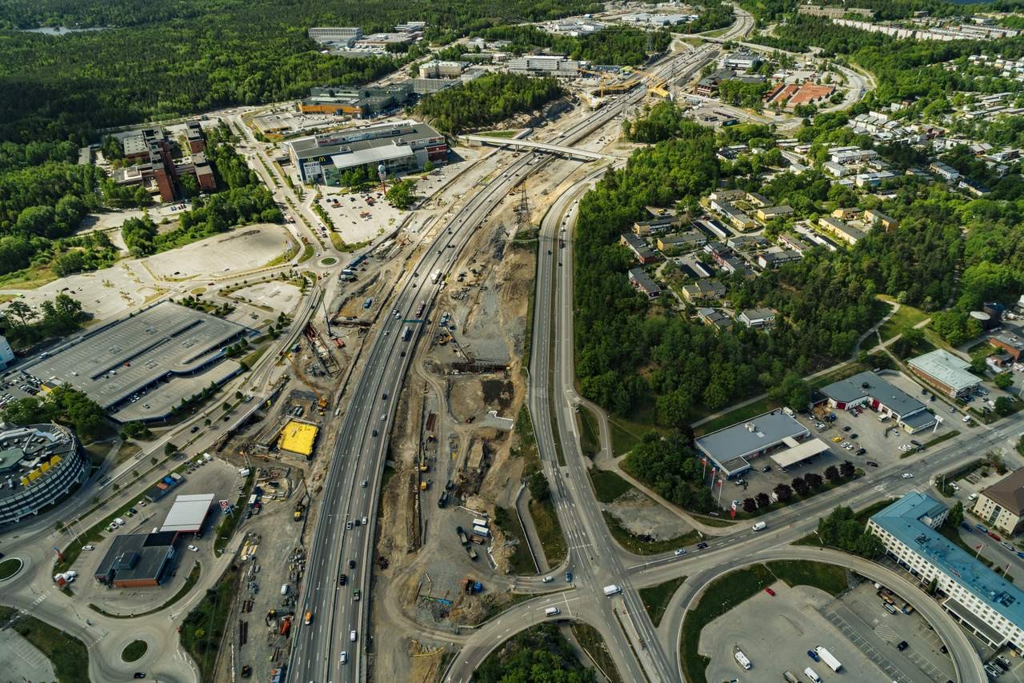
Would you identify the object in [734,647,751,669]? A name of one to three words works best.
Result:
camper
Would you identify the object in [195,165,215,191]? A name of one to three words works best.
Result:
building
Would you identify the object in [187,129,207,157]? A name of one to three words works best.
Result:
building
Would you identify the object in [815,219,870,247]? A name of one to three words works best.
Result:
house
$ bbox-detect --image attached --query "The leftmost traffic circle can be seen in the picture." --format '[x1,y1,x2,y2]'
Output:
[0,535,55,601]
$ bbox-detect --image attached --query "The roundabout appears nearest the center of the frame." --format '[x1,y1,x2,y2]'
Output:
[301,250,355,272]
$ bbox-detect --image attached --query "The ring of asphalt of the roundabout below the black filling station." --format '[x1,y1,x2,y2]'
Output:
[88,610,182,683]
